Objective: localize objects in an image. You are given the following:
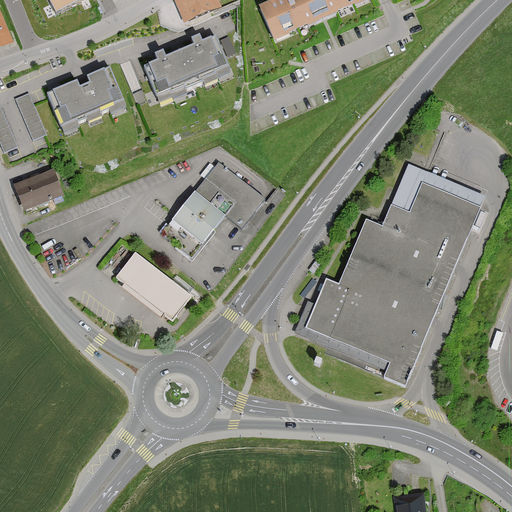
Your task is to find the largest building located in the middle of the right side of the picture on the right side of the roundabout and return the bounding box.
[296,164,488,386]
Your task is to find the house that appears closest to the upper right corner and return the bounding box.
[258,0,370,45]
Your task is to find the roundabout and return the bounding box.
[132,350,222,440]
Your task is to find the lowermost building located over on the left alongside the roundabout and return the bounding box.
[116,252,198,318]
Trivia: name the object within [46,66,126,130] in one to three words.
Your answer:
building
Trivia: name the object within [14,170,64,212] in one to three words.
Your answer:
house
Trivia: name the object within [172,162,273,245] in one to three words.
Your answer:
building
